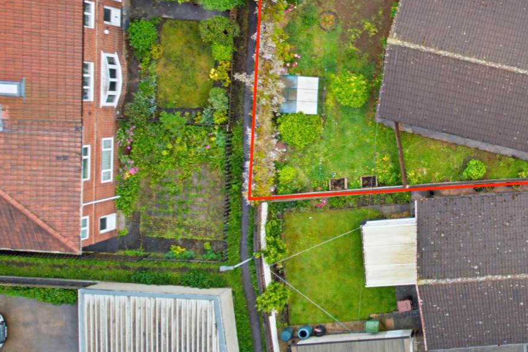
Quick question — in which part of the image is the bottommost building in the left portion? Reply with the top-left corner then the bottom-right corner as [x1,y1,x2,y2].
[78,280,241,352]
